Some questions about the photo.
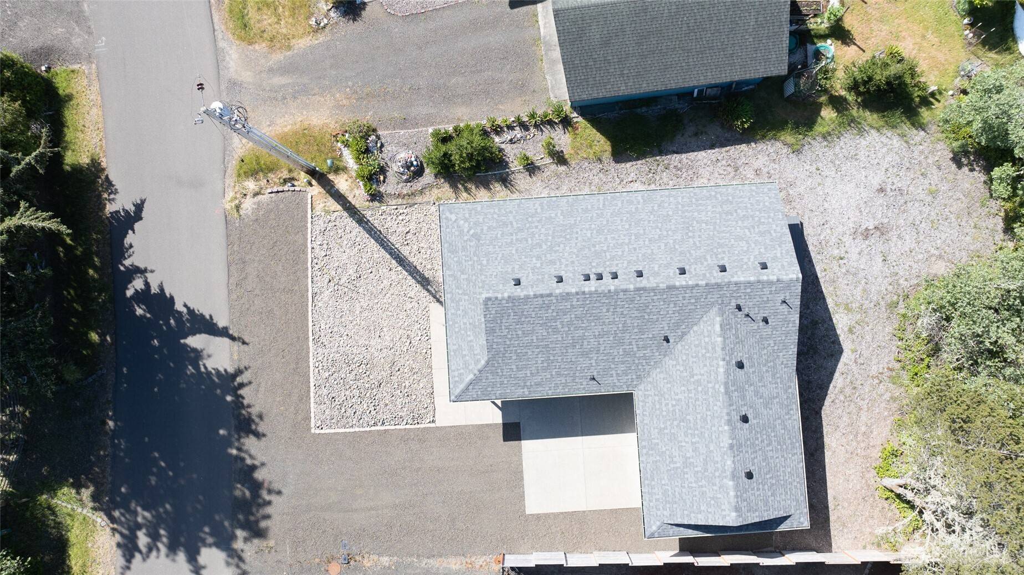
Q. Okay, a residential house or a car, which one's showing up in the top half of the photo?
residential house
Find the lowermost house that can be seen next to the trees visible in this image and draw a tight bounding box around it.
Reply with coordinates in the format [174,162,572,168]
[436,178,811,541]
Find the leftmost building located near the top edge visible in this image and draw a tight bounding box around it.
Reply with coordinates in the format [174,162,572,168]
[551,0,791,111]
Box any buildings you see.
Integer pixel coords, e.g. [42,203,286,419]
[551,0,791,111]
[436,178,811,541]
